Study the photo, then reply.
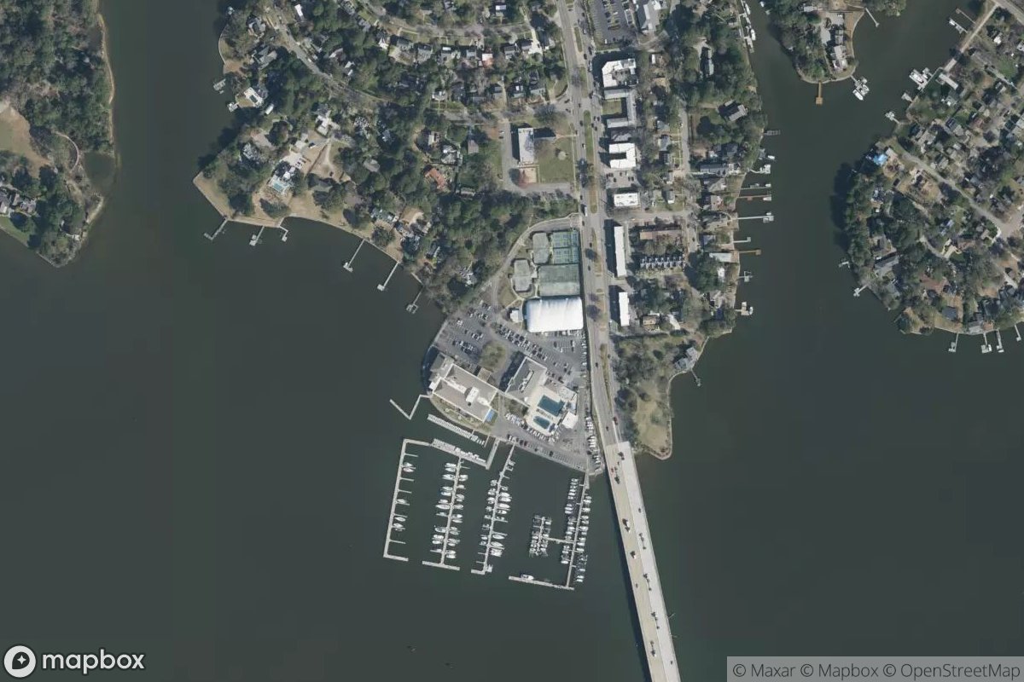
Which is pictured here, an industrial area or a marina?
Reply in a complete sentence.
What you see here is a marina.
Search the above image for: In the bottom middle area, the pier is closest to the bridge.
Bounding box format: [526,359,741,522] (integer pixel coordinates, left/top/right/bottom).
[567,471,589,588]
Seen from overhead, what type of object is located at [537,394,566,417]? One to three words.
swimming pool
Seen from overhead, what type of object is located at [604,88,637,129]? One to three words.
building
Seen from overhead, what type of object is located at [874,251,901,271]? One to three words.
house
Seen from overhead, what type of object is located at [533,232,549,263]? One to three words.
tennis court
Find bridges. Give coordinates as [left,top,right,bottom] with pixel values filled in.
[605,444,679,682]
